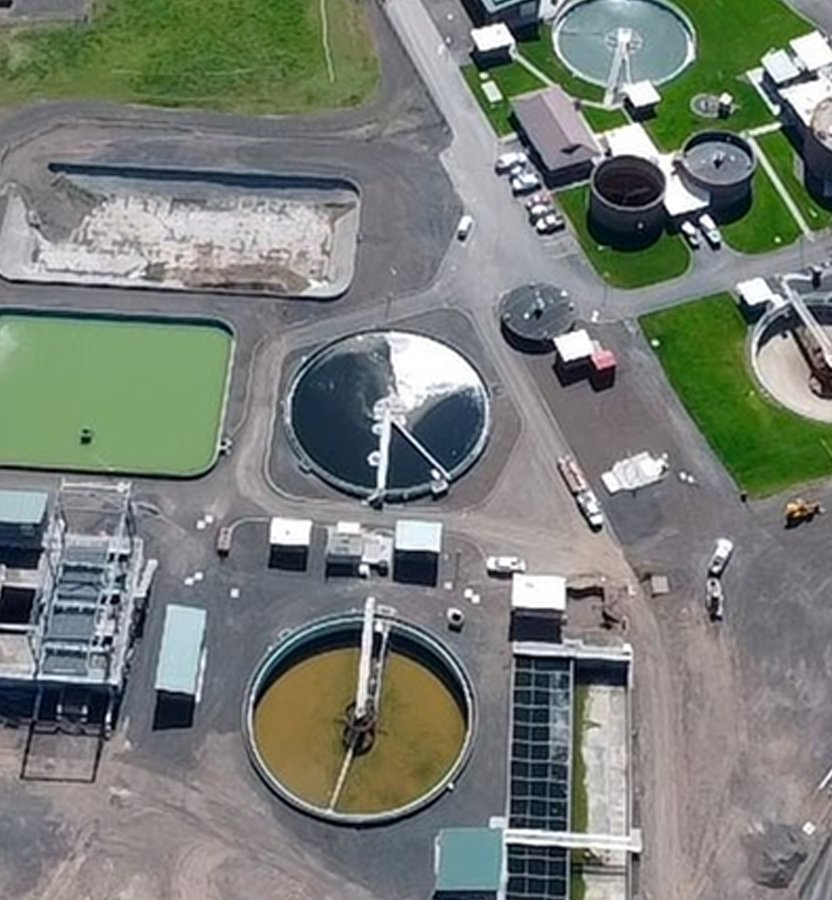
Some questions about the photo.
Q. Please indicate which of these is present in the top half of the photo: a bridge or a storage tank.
storage tank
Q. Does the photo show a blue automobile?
No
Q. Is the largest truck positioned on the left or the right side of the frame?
right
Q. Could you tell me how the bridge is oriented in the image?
horizontally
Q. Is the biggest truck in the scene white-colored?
Yes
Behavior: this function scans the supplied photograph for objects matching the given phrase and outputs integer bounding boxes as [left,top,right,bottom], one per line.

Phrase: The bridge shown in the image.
[505,823,648,856]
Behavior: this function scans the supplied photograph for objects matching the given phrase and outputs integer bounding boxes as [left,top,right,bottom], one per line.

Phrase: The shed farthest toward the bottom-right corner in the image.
[436,828,503,898]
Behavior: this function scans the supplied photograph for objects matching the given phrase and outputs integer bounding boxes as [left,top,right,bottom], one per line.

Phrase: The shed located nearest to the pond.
[0,490,51,544]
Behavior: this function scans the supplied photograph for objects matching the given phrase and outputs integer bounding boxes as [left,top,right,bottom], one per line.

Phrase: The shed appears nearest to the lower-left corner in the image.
[154,606,210,710]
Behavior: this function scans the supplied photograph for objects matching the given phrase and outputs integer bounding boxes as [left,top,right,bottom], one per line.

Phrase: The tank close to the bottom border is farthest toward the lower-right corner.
[490,641,648,900]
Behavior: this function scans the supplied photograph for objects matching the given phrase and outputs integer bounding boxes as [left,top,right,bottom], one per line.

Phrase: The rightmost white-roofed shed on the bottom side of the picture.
[511,575,566,623]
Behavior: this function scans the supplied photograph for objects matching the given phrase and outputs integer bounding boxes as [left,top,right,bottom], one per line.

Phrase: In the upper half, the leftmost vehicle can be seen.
[456,212,475,242]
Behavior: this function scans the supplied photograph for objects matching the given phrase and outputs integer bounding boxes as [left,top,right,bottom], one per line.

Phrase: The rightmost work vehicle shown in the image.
[786,498,829,524]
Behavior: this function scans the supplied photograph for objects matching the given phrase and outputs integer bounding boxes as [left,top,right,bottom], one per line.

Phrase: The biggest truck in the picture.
[554,454,606,531]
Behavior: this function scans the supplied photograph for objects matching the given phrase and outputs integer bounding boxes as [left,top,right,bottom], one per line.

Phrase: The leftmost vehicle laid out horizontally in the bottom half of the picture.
[488,558,525,575]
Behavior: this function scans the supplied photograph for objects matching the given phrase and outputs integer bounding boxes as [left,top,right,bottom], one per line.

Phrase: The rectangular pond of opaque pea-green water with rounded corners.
[0,308,236,475]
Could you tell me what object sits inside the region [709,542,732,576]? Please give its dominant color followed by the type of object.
white truck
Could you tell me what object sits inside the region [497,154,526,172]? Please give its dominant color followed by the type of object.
white car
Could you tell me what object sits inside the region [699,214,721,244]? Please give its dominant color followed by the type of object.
white truck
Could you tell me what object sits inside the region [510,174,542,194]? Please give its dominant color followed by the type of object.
white vehicle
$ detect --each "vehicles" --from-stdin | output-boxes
[525,192,553,209]
[508,164,536,181]
[786,498,829,524]
[530,203,559,221]
[535,217,564,236]
[510,174,542,194]
[680,222,699,248]
[709,542,732,576]
[456,212,475,242]
[497,154,526,172]
[488,558,525,575]
[699,214,721,244]
[554,454,606,531]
